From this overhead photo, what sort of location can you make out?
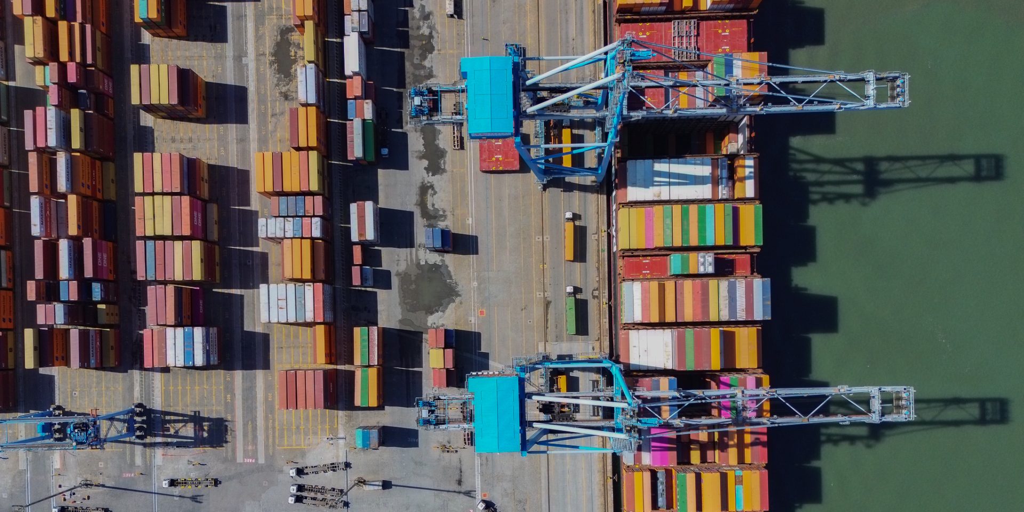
port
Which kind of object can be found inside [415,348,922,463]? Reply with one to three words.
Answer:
container crane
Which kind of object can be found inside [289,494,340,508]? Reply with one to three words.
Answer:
vehicle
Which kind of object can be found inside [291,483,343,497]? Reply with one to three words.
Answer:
vehicle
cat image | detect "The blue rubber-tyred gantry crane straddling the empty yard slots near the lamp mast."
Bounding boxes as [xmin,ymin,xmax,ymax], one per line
[0,401,143,454]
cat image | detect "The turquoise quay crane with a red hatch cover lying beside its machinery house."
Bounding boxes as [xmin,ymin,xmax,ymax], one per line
[408,31,916,193]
